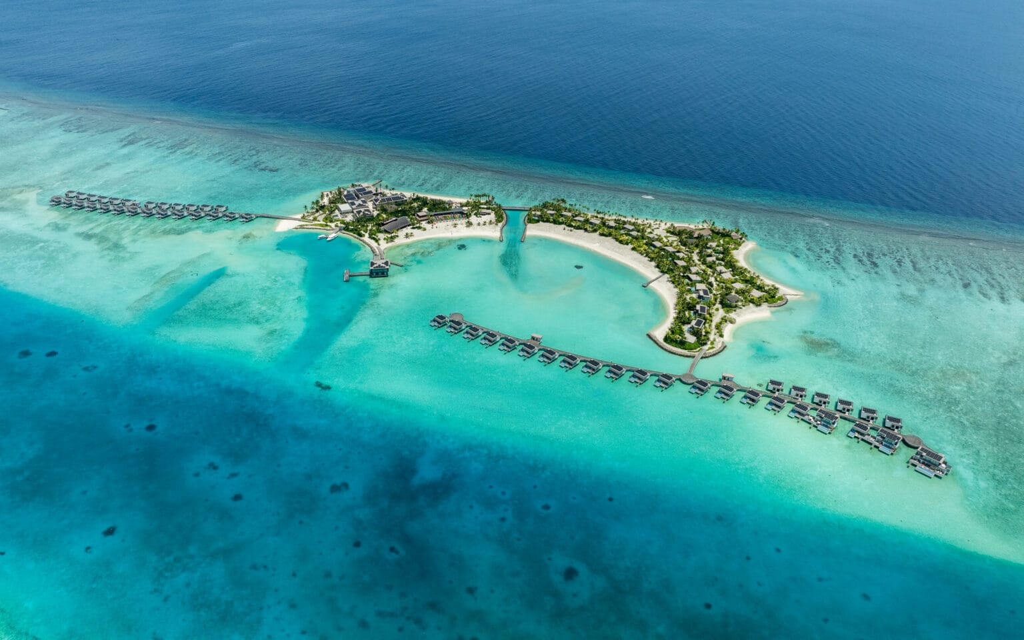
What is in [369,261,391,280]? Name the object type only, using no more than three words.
building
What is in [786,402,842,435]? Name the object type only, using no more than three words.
house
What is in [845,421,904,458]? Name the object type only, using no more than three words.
house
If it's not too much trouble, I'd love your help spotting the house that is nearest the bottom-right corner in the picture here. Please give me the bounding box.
[906,446,953,477]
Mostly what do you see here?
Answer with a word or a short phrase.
water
